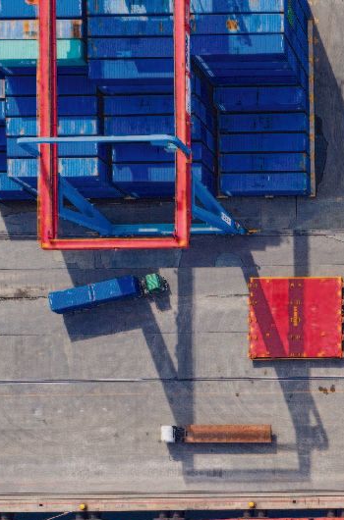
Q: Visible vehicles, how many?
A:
2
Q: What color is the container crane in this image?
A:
red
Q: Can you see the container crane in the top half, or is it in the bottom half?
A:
top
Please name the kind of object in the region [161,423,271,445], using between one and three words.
truck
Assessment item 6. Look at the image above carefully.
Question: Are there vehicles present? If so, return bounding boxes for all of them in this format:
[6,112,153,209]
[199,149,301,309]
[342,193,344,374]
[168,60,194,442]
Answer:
[161,423,271,445]
[58,269,170,314]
